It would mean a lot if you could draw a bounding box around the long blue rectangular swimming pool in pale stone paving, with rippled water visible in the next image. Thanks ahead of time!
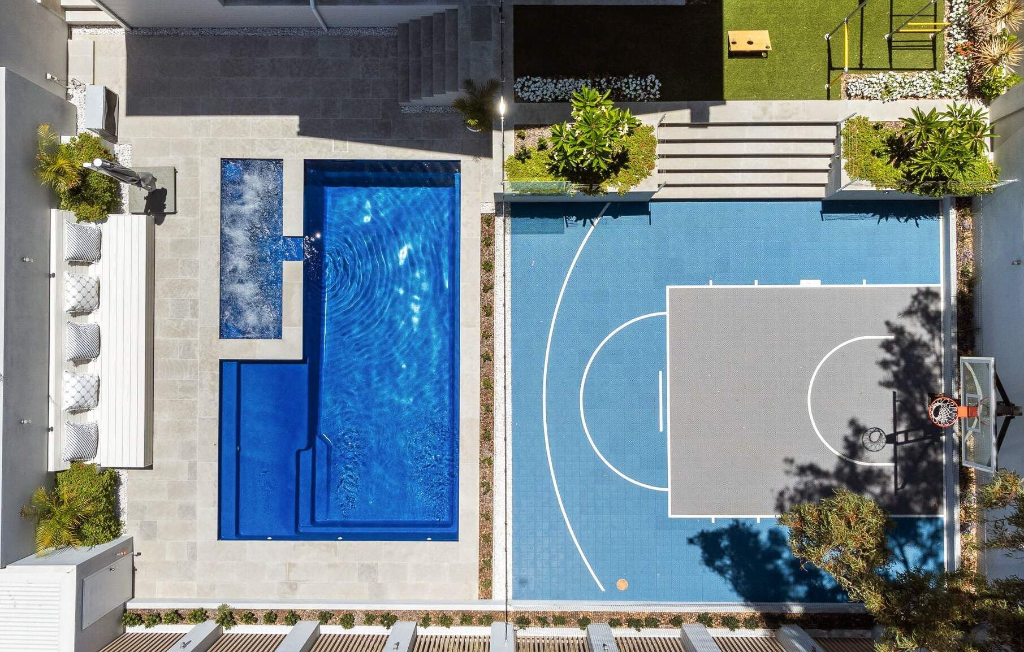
[221,160,460,540]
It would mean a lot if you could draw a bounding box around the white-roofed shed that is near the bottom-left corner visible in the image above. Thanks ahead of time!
[4,537,134,652]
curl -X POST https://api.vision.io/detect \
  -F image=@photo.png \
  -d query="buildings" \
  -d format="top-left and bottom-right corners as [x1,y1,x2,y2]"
[89,0,243,32]
[4,537,134,652]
